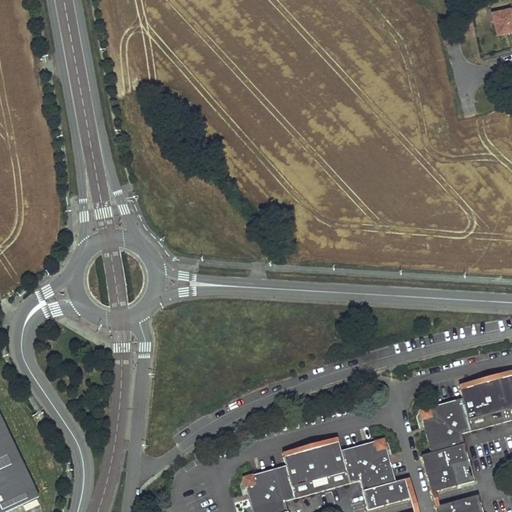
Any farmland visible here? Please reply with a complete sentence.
Yes, farmland can be seen from above here.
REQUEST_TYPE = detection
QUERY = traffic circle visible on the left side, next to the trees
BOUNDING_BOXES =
[38,202,206,343]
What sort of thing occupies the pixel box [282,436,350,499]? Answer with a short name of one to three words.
building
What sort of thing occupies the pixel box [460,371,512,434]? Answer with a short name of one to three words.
building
